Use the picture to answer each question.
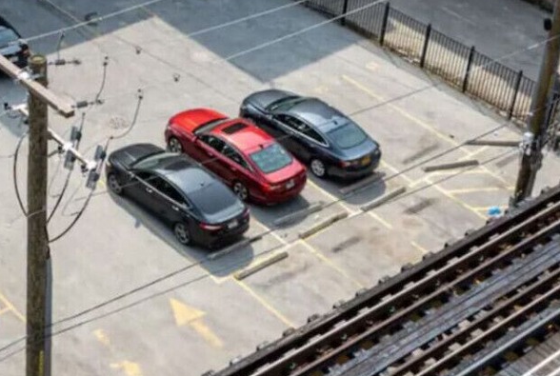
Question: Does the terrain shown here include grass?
No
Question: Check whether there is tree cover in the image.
No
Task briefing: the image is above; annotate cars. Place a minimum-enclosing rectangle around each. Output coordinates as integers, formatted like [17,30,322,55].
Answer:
[107,143,254,256]
[238,83,387,184]
[164,105,311,209]
[0,12,35,76]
